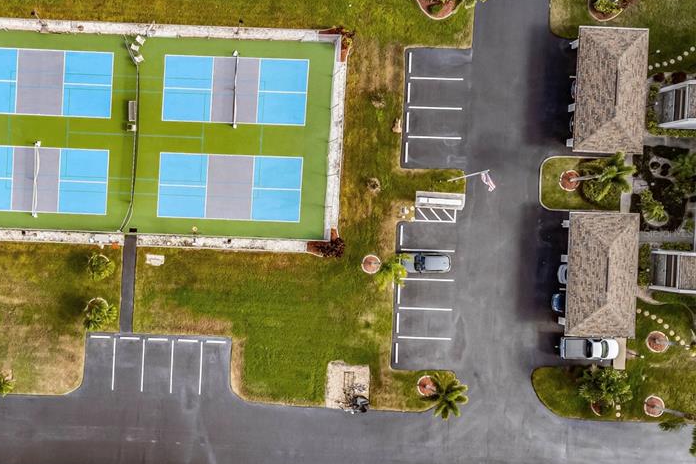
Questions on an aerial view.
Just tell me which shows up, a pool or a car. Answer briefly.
car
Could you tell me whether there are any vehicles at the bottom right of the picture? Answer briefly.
Yes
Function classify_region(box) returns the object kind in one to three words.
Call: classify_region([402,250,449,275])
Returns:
car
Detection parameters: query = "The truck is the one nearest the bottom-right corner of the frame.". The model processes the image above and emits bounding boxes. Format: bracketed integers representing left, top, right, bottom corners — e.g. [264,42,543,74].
[554,336,620,364]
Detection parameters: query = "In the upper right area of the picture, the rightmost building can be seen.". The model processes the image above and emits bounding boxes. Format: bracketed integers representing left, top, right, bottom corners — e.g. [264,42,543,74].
[658,84,696,129]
